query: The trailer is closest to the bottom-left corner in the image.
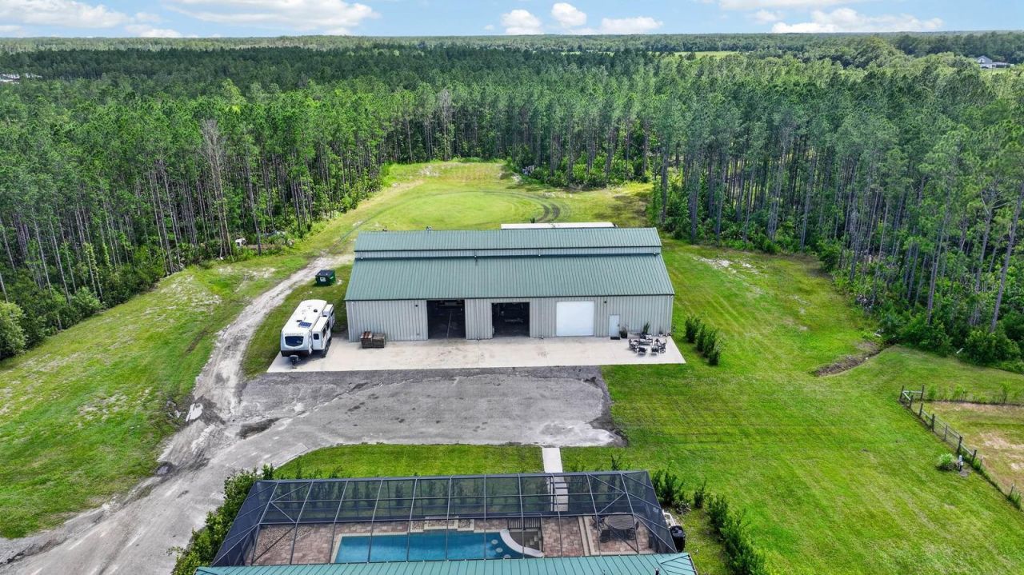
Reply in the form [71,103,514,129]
[283,302,337,368]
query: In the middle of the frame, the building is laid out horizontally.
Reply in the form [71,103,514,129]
[343,226,676,342]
